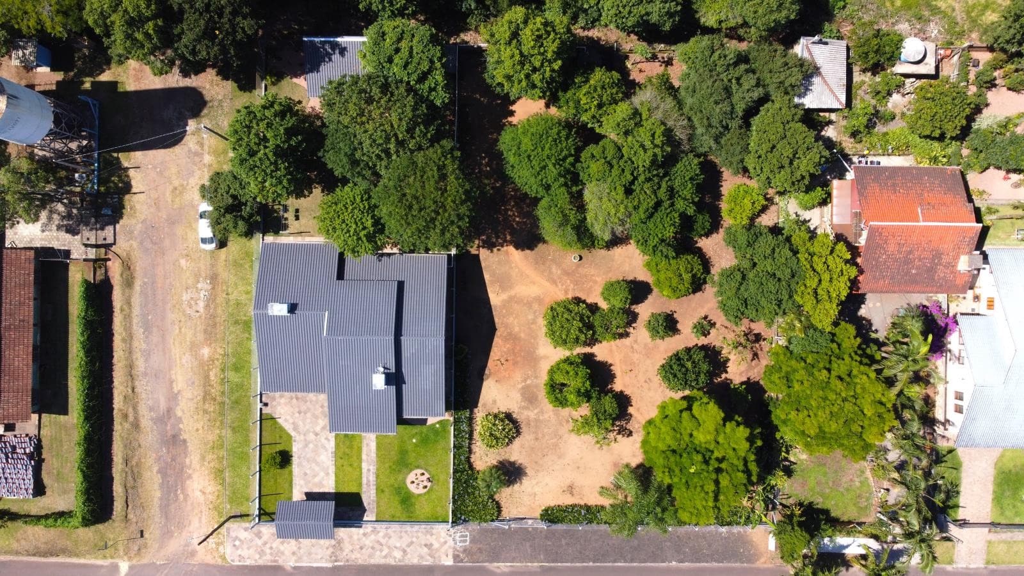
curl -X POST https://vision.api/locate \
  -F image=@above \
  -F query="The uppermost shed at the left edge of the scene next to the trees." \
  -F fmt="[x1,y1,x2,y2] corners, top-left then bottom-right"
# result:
[11,38,52,72]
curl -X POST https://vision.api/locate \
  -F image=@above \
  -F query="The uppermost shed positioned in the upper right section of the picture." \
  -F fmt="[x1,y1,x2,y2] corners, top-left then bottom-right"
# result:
[790,32,847,112]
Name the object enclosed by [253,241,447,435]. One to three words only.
house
